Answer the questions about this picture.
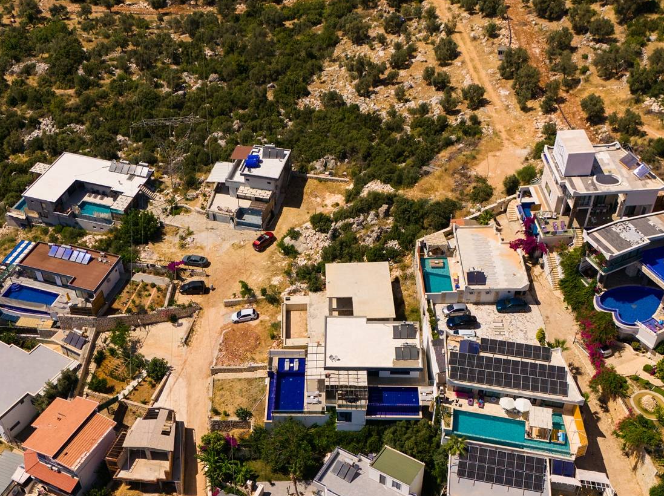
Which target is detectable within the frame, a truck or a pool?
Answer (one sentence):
The image shows a pool.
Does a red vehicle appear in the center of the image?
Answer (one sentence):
Yes, a red vehicle can be seen in the center of the image.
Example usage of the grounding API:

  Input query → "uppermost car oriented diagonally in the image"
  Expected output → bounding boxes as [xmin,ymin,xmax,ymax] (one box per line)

[253,233,278,252]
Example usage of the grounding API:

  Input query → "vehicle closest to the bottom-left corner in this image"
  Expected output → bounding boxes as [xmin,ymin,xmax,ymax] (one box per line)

[179,279,207,296]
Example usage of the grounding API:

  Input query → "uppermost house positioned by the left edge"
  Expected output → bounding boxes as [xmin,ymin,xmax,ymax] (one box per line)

[6,152,154,236]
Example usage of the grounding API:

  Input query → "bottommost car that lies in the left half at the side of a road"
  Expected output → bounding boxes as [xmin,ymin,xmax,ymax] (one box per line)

[232,308,259,323]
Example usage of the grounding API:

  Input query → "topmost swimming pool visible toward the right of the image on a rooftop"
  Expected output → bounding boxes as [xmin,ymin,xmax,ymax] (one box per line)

[516,202,536,220]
